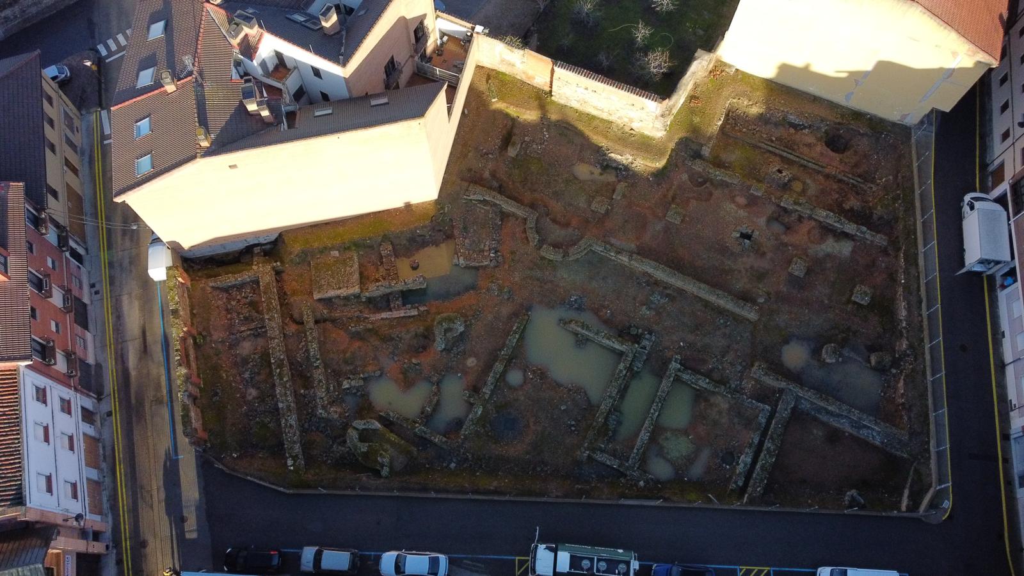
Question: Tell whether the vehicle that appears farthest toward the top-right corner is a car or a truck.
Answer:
truck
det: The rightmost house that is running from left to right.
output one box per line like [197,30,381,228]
[719,0,1024,125]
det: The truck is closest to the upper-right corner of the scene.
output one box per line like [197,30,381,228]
[949,200,1012,286]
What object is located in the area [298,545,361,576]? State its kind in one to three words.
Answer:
car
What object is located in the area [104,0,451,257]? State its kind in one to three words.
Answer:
house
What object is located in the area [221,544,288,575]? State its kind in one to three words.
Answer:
car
